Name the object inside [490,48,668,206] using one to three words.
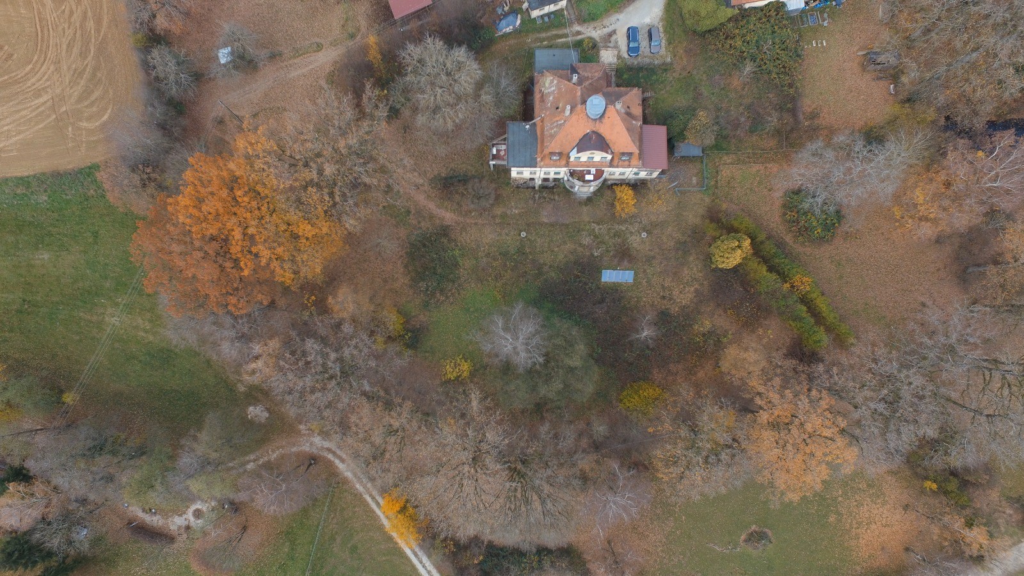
house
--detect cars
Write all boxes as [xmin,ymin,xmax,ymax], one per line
[648,29,661,54]
[626,29,640,56]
